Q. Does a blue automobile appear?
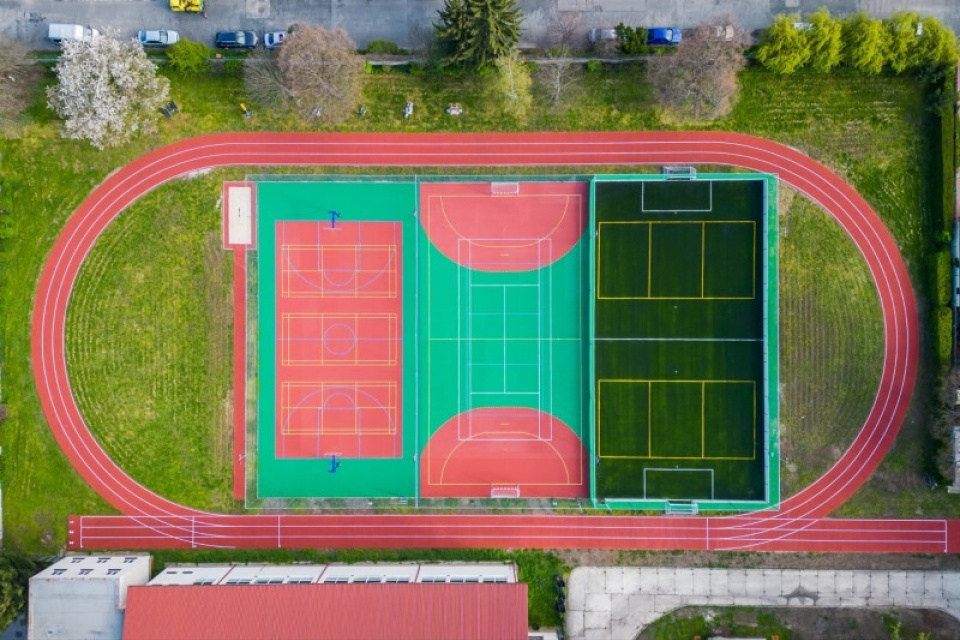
Yes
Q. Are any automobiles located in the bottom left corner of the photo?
No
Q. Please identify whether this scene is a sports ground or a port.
sports ground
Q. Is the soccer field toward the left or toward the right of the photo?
right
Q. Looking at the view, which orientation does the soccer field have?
up and down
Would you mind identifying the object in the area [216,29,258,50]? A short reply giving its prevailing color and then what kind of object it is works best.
blue car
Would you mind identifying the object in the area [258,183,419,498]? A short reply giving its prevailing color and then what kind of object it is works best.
red basketball court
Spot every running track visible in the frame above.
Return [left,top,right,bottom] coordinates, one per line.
[32,132,960,554]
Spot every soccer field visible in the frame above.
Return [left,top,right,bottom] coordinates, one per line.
[590,171,763,510]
